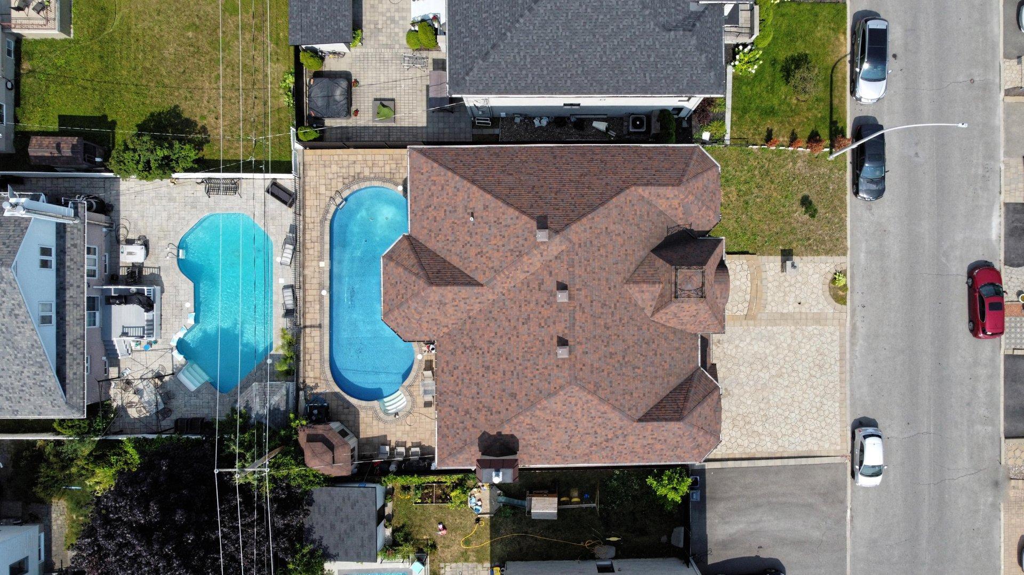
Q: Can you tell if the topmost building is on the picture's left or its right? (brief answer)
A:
left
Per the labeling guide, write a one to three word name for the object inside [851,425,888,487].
car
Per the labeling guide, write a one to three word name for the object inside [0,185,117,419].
house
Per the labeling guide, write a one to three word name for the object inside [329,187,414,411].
swimming pool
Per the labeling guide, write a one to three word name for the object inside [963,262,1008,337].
car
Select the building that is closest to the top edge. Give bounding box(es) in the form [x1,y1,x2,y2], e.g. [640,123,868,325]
[288,0,353,51]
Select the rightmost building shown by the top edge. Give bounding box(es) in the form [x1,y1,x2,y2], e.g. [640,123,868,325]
[445,0,759,126]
